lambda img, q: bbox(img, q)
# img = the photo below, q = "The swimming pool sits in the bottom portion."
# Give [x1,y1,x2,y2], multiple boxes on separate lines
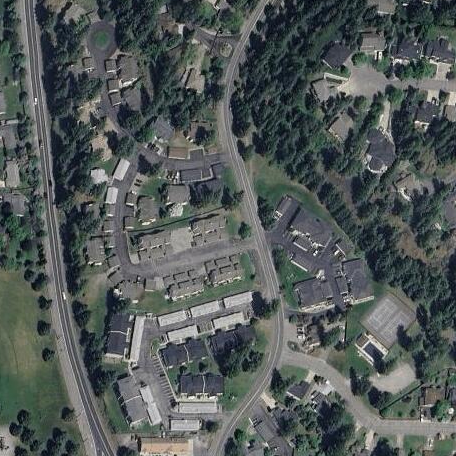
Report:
[357,337,389,363]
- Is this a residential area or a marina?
residential area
